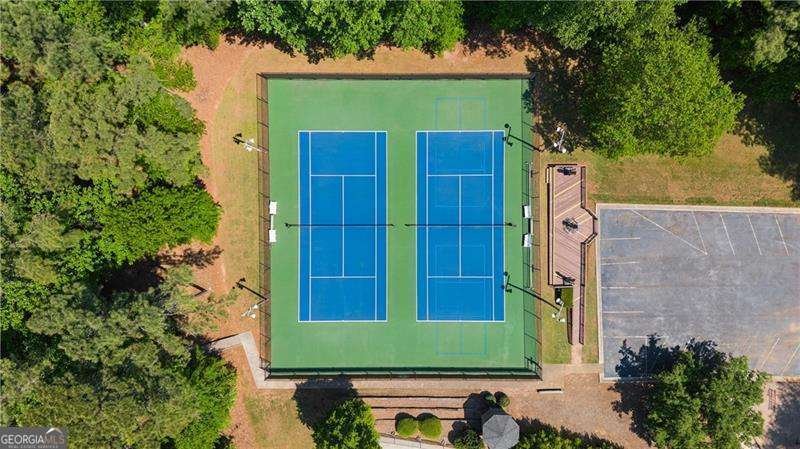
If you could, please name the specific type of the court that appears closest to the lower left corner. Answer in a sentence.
It looks like the court that appears closest to the lower left corner is a tennis court.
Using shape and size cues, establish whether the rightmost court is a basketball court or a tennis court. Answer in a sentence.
The rightmost court in the image is a tennis court.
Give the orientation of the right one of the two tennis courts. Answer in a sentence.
The right one of the two tennis courts is laid out vertically.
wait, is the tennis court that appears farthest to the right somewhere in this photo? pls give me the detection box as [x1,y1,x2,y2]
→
[409,97,515,355]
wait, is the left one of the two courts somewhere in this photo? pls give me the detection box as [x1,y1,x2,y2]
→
[289,130,395,322]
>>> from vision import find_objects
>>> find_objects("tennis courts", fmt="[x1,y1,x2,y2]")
[289,130,395,322]
[409,97,515,355]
